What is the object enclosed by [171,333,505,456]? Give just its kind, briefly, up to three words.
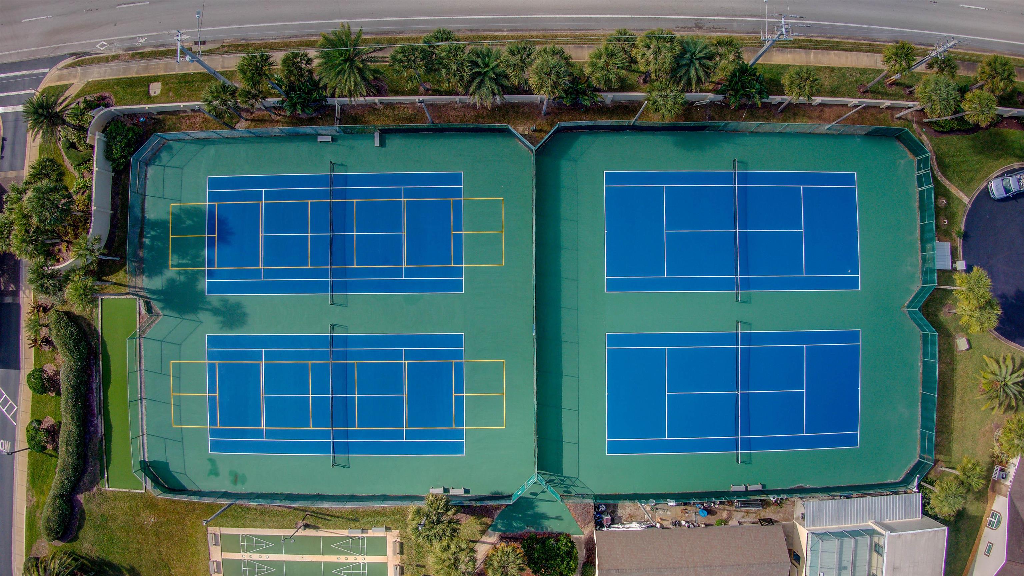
tennis court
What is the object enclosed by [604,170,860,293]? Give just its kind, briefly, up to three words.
tennis court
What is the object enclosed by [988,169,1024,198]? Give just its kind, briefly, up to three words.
truck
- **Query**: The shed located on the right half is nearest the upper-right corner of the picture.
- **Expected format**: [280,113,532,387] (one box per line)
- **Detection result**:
[926,242,951,269]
